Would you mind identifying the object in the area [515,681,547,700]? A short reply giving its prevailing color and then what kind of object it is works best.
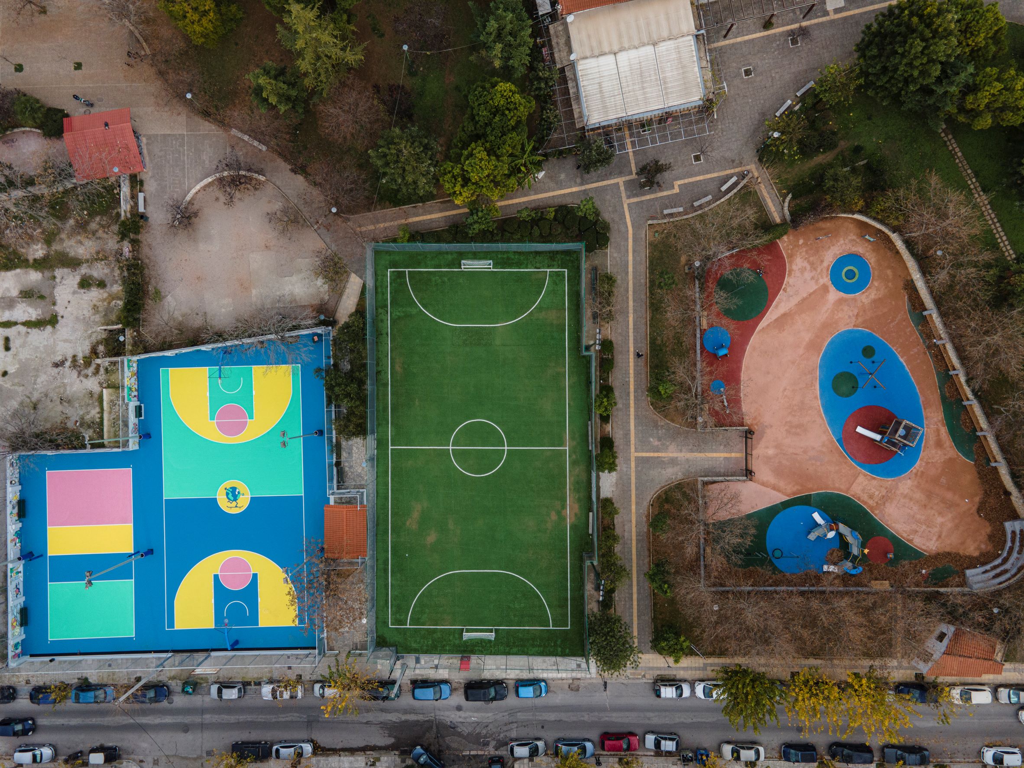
blue car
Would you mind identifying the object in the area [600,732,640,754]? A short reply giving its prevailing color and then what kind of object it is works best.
red car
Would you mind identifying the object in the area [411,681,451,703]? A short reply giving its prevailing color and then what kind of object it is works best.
blue car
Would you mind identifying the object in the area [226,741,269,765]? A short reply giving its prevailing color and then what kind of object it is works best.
black car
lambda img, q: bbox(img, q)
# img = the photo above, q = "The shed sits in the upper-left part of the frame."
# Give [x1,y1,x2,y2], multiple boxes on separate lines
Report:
[63,107,151,184]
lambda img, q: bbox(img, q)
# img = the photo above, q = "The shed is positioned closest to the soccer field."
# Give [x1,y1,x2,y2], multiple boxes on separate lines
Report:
[324,503,370,559]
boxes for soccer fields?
[374,251,593,656]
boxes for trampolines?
[843,267,859,283]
